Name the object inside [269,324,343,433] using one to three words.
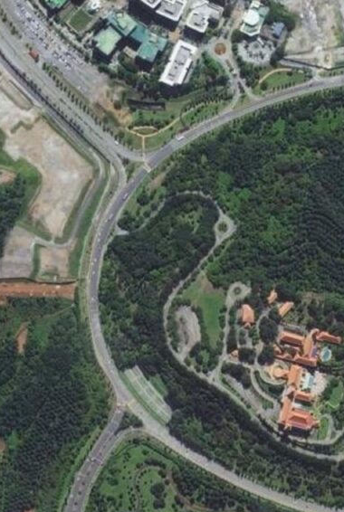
building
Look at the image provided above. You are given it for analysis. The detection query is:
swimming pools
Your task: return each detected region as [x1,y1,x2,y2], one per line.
[321,347,332,362]
[307,373,315,389]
